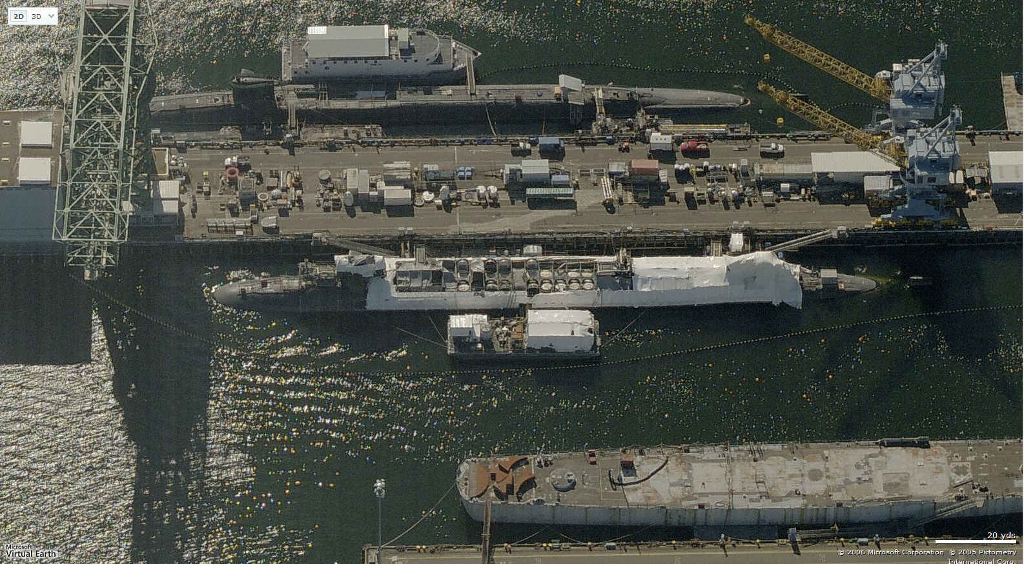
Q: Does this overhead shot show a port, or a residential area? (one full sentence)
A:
The area seen from above is a port.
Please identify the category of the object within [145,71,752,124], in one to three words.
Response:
ship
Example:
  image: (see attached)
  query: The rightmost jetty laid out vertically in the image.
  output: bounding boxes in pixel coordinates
[1002,73,1024,134]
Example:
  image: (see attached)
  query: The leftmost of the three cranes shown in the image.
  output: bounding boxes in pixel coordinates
[49,0,160,300]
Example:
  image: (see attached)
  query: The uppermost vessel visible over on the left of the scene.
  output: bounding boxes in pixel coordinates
[282,21,481,82]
